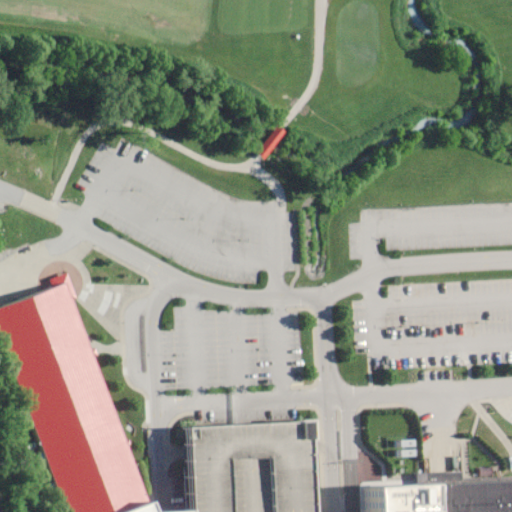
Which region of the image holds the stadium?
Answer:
bottom left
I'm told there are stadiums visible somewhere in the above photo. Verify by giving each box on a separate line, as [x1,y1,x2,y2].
[0,272,148,512]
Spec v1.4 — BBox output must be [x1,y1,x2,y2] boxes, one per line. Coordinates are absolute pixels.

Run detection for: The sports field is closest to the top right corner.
[336,0,380,86]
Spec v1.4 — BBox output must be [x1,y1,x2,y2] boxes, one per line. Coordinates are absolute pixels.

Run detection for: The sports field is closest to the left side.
[0,0,212,44]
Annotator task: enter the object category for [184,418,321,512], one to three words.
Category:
building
